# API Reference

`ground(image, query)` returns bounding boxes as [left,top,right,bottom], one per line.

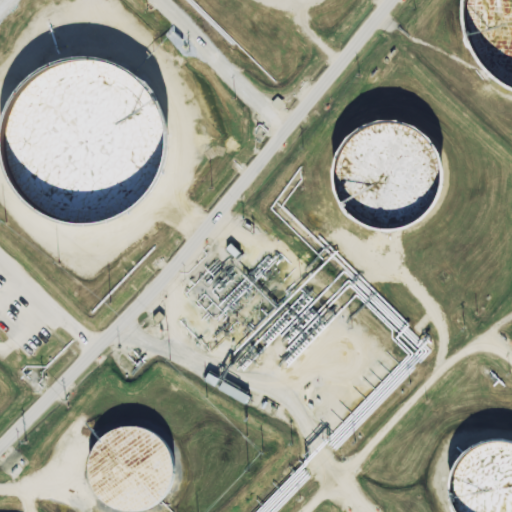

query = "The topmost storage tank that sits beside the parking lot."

[0,24,168,225]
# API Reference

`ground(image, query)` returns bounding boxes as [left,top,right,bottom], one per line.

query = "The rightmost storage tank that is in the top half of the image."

[460,0,512,90]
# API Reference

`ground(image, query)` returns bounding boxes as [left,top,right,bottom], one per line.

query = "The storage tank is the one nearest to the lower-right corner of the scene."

[447,434,512,512]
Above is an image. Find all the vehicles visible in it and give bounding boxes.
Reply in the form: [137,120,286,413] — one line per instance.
[27,340,36,351]
[10,304,19,315]
[19,296,28,307]
[32,336,42,346]
[6,308,17,320]
[0,273,7,284]
[212,212,223,224]
[196,36,206,46]
[0,322,8,332]
[13,300,22,310]
[37,331,46,342]
[79,333,88,344]
[40,326,50,337]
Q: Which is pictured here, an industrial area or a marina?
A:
industrial area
